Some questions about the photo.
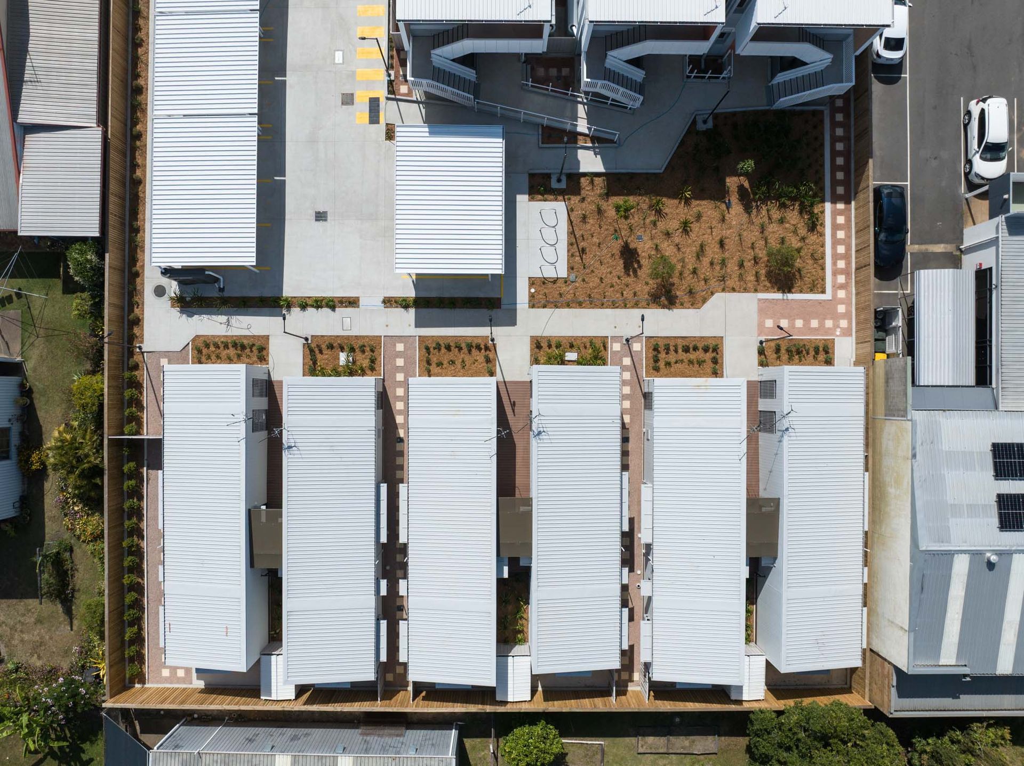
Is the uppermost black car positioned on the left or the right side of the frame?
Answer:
right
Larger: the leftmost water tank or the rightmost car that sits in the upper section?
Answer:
the car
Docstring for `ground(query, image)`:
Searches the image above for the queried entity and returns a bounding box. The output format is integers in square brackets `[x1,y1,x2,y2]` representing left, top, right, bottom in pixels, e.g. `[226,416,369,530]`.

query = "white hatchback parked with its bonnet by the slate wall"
[964,94,1014,180]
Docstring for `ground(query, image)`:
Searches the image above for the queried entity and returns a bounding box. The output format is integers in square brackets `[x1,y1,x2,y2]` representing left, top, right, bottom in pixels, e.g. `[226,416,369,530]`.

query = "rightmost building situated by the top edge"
[723,0,897,108]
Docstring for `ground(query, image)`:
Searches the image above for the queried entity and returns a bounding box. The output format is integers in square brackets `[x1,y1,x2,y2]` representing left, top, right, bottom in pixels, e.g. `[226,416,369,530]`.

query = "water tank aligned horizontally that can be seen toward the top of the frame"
[158,266,225,293]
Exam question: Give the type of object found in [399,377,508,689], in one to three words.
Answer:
house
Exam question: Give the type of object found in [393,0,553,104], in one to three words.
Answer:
building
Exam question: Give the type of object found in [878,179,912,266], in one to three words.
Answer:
car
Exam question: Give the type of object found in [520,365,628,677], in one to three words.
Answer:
house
